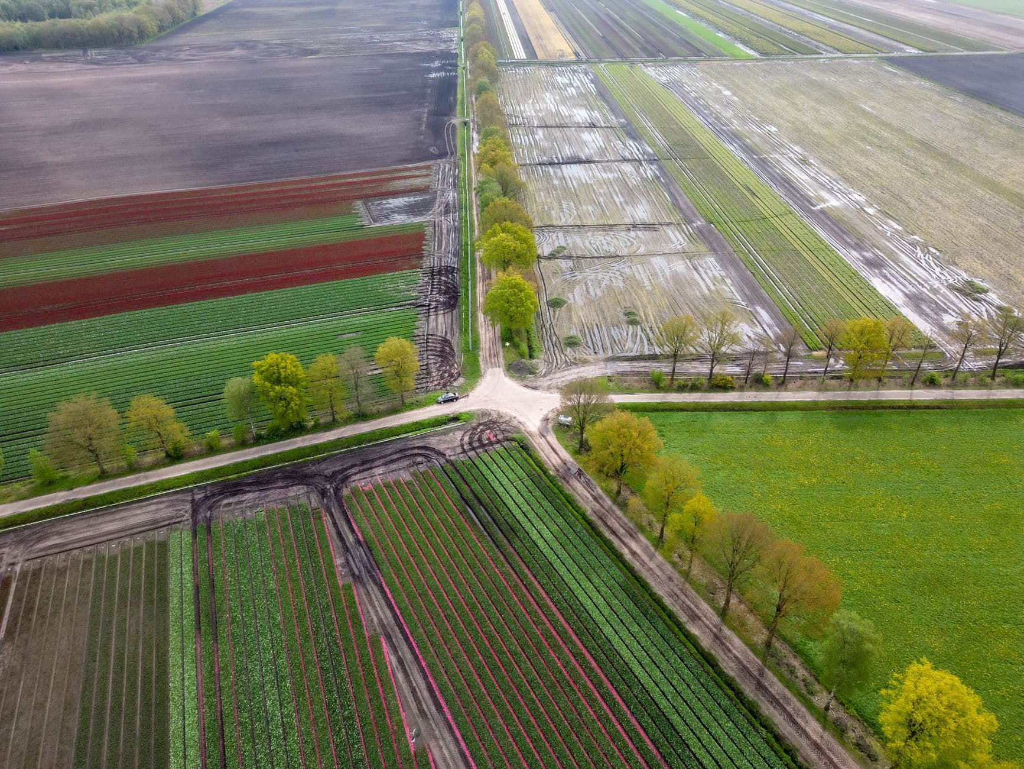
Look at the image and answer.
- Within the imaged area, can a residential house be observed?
No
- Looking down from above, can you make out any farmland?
Yes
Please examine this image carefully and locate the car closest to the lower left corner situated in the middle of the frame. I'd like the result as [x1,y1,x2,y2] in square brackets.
[435,393,460,405]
